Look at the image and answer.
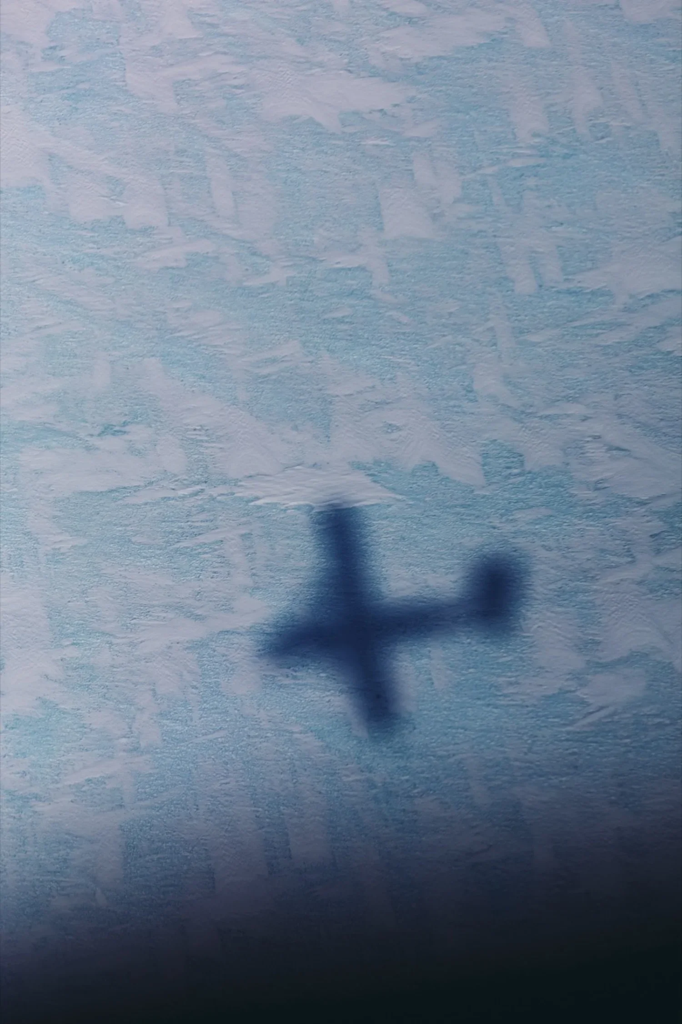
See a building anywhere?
No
